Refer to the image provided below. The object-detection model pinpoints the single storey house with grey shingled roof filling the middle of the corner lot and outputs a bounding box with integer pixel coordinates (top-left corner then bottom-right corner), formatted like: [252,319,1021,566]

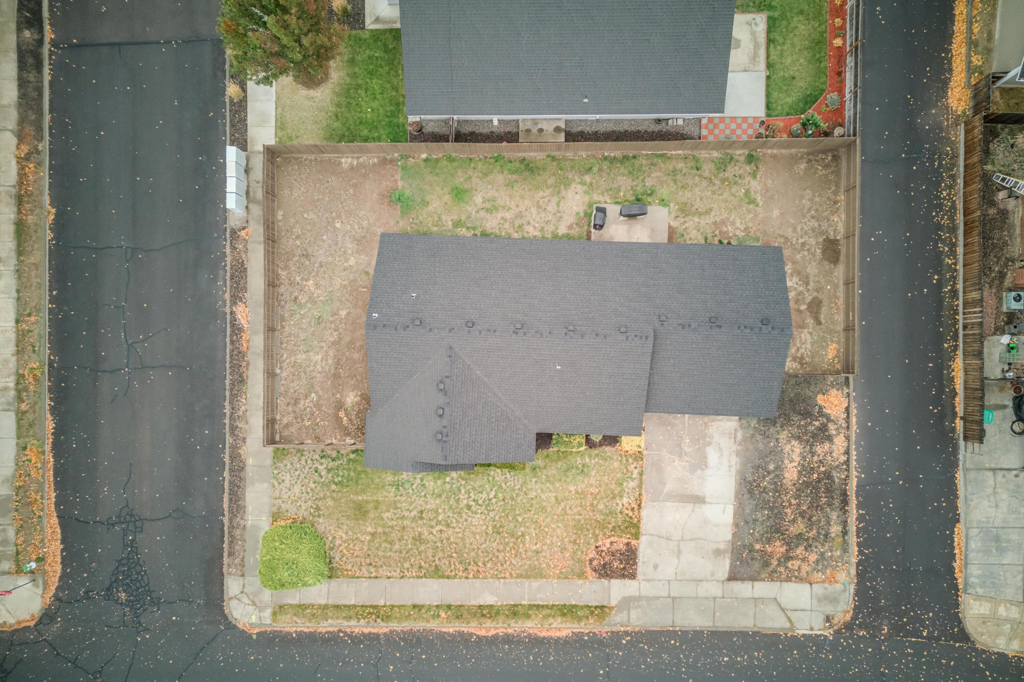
[365,234,794,473]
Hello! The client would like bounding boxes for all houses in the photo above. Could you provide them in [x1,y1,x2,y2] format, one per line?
[389,0,737,127]
[991,0,1024,87]
[365,234,794,473]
